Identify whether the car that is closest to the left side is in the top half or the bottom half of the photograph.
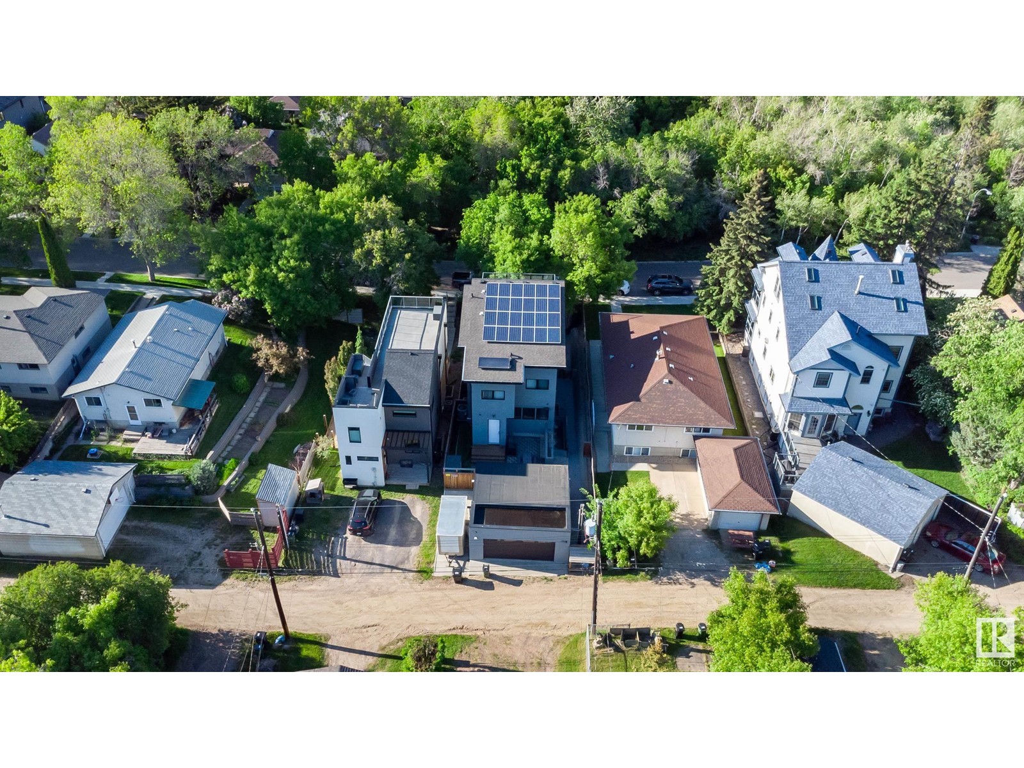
bottom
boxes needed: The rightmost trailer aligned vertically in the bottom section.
[436,495,468,572]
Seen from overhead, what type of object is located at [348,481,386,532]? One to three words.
car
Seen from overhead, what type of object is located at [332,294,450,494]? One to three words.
house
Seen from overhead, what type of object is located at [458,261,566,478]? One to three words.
house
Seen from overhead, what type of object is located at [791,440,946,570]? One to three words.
building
